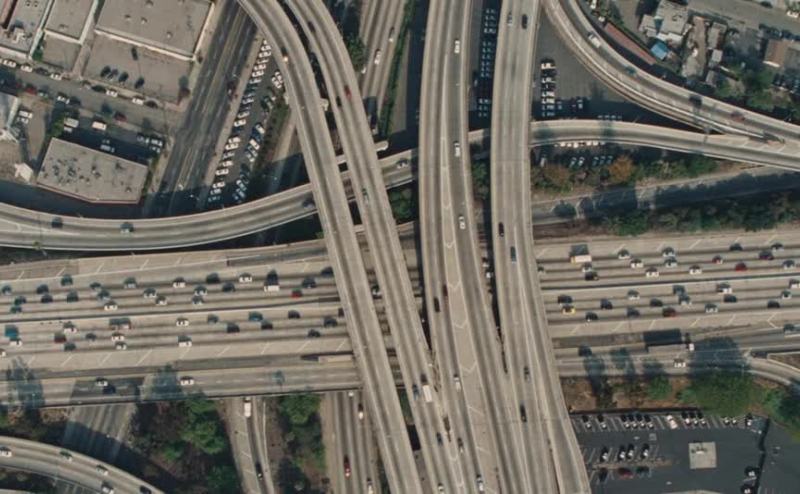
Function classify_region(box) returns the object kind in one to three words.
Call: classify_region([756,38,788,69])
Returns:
house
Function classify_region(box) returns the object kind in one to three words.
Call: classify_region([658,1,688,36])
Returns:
building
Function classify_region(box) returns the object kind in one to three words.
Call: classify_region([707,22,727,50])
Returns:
building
